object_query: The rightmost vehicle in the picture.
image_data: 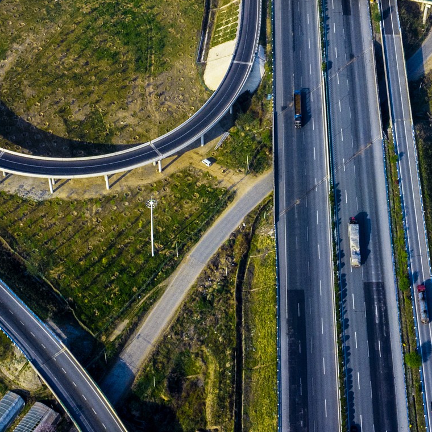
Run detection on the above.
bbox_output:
[415,288,429,326]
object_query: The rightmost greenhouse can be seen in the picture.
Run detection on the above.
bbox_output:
[16,402,61,432]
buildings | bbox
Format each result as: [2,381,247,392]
[16,402,61,432]
[0,393,25,432]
